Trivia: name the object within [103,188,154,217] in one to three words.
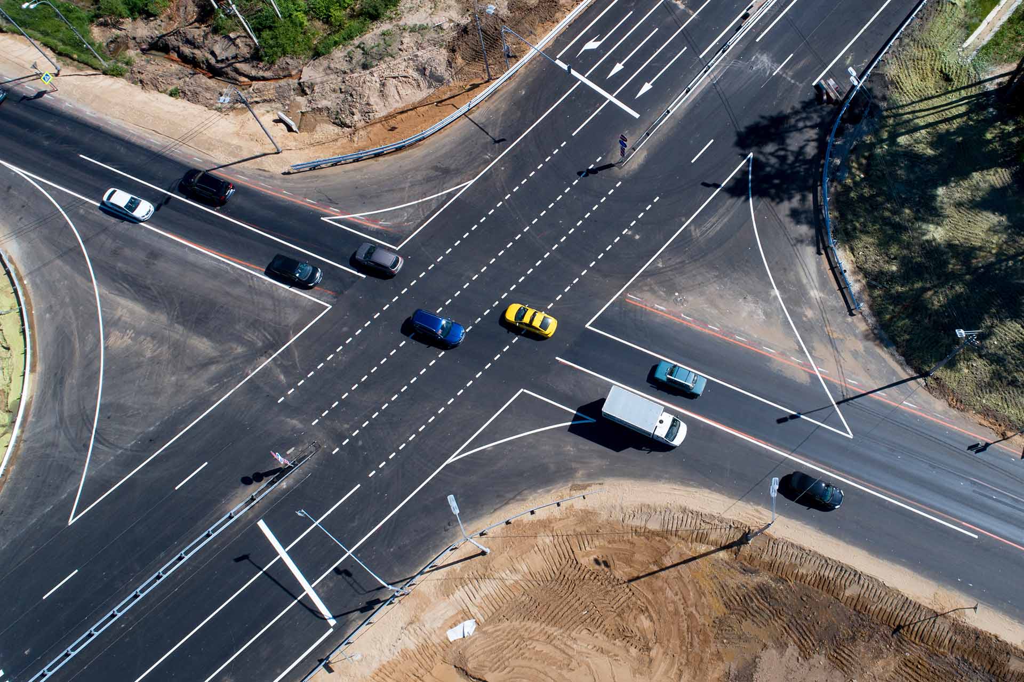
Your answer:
car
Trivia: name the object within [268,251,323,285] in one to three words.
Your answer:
car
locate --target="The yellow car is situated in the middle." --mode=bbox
[504,303,558,336]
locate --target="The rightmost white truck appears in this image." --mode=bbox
[600,385,688,452]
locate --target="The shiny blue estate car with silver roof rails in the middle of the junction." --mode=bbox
[412,306,467,343]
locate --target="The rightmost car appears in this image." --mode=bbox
[785,468,847,507]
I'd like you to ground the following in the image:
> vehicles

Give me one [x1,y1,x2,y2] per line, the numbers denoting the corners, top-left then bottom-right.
[268,251,323,285]
[103,188,154,217]
[412,306,467,343]
[356,246,407,277]
[183,171,237,204]
[504,303,558,336]
[785,468,847,507]
[652,362,707,398]
[600,385,688,452]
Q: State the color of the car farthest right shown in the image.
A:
black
